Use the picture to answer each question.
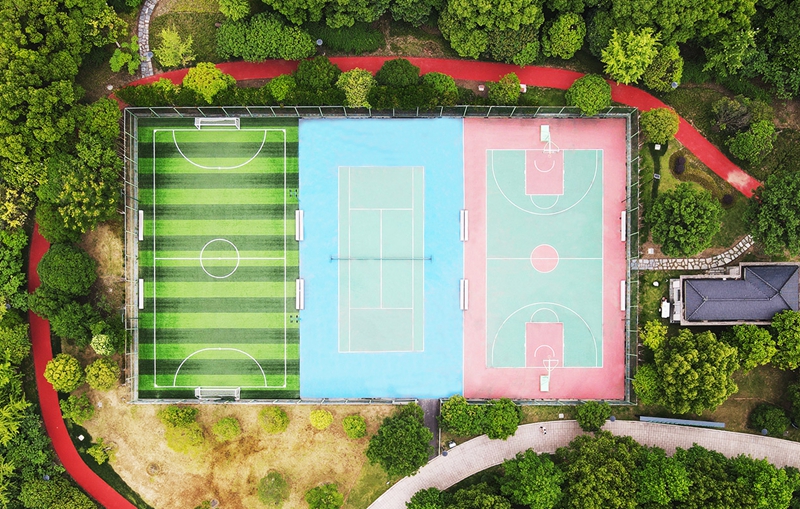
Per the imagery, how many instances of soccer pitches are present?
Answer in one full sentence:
The photo contains exactly 1 soccer pitch.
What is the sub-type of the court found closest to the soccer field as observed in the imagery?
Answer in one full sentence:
From above, the court found closest to the soccer field can be identified as a tennis court.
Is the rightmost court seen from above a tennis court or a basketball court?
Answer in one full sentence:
I'd say the rightmost court is a basketball court.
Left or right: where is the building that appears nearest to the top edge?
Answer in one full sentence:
The building that appears nearest to the top edge appears in the right half of the scene.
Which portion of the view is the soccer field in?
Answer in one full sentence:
The soccer field sits in the left section of the image.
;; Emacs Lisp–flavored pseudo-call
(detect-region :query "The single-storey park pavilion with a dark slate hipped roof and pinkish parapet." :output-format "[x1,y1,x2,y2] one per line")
[667,263,800,324]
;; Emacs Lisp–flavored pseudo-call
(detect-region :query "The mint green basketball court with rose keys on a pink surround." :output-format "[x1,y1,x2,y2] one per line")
[463,118,626,399]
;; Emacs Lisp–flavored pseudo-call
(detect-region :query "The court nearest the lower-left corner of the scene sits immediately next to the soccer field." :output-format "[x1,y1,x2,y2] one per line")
[299,118,463,399]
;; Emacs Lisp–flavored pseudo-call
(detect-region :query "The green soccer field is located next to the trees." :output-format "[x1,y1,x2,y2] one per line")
[138,118,299,399]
